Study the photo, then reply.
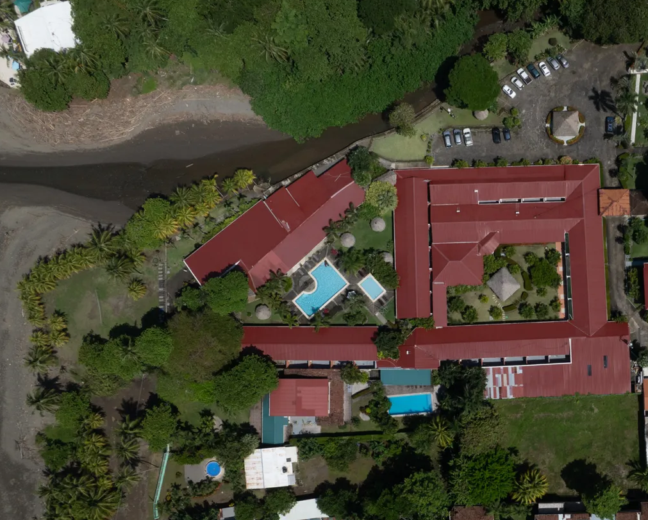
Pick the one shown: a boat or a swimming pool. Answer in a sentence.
It is a swimming pool that can be seen here.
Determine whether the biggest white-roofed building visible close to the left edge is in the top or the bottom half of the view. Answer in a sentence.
Seen from above, the biggest white-roofed building visible close to the left edge lies in the top half of the view.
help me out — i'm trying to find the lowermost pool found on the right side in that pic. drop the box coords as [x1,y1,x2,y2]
[387,391,435,417]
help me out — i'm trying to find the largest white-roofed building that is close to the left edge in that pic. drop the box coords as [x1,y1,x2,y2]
[15,2,80,59]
